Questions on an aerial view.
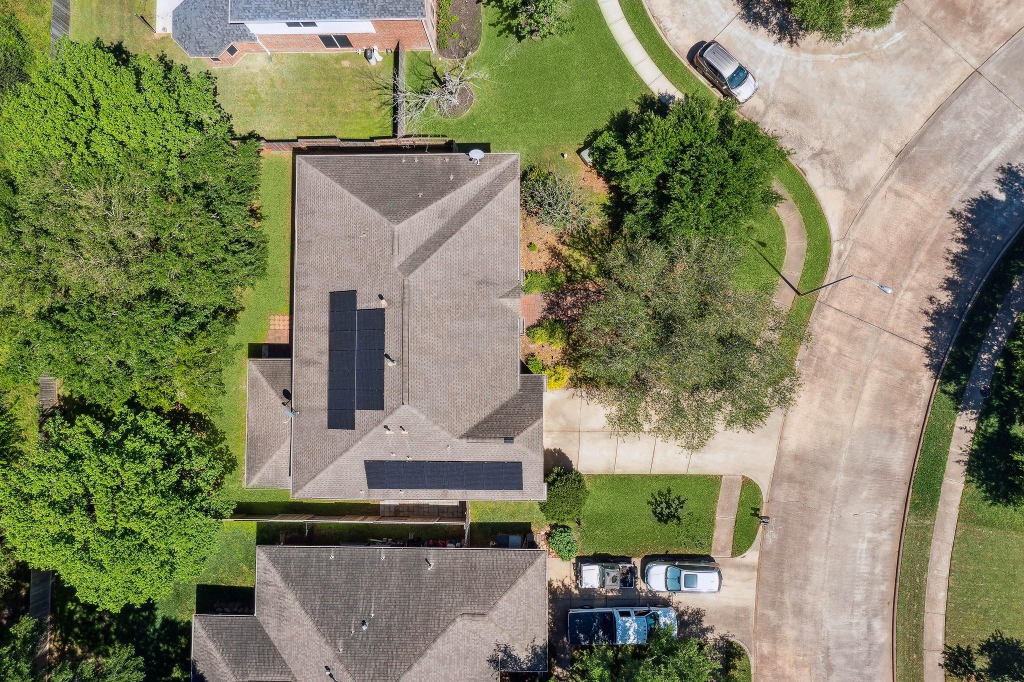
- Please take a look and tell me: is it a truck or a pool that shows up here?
truck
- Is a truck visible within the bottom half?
Yes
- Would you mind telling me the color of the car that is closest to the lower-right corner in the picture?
white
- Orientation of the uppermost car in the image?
diagonally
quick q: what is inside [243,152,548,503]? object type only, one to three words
house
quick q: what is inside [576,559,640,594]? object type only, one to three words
truck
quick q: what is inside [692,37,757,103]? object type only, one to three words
car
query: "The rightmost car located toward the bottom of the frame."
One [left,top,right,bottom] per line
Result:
[644,559,725,599]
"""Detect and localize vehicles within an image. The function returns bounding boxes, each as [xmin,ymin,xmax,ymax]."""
[576,559,640,594]
[692,37,757,103]
[644,559,725,599]
[567,604,680,653]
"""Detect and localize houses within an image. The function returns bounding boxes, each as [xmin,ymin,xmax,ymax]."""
[243,152,548,503]
[189,545,550,682]
[156,0,436,67]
